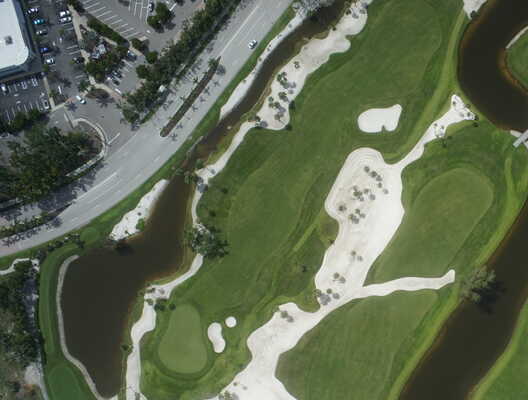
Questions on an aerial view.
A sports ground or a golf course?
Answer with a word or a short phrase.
golf course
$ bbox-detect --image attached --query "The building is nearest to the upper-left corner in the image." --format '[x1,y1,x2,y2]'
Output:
[0,0,40,77]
